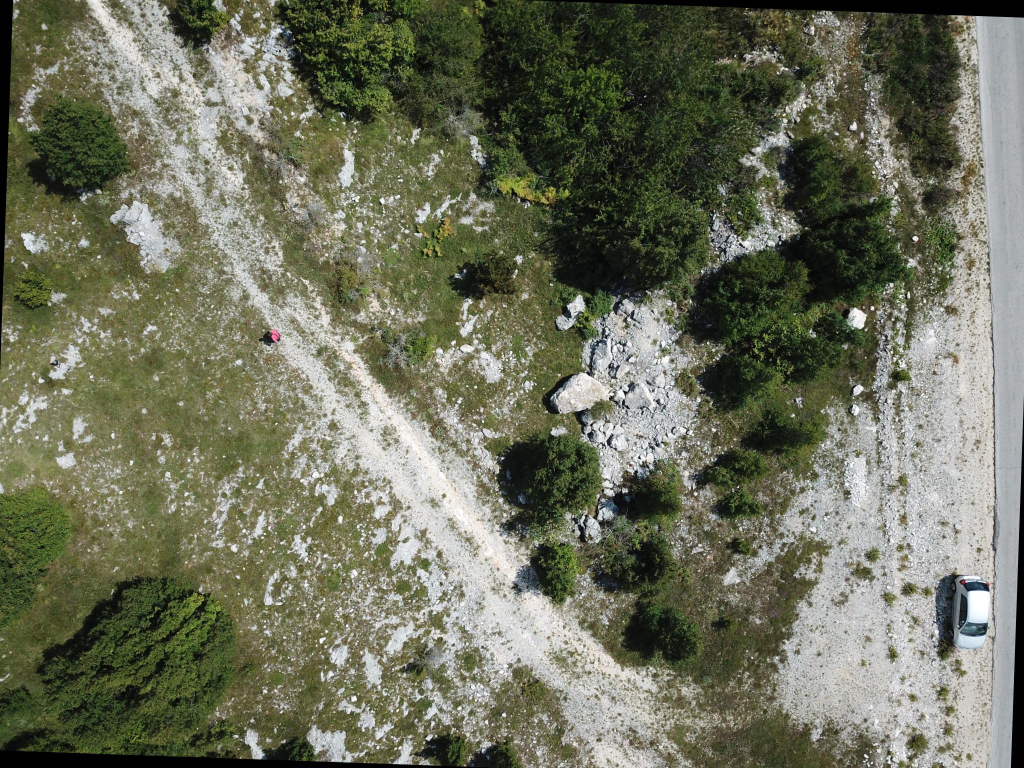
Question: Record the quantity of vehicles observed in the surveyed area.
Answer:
1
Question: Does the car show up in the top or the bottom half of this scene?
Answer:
bottom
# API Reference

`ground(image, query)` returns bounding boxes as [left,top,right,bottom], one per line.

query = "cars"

[951,574,996,651]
